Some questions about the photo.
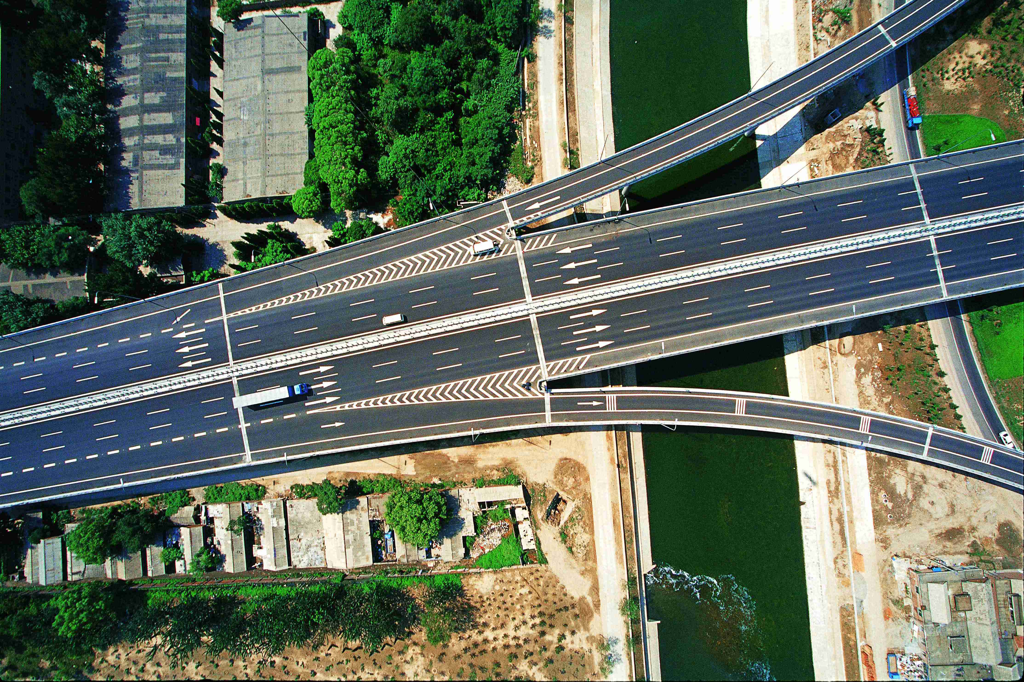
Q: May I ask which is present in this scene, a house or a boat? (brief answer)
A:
house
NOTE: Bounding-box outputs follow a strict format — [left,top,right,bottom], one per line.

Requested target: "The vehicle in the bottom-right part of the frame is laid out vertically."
[886,654,900,679]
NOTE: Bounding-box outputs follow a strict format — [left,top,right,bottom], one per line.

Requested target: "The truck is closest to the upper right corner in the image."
[901,88,922,126]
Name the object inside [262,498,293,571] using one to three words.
house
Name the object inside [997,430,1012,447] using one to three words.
car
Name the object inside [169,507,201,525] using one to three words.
house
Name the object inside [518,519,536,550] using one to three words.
shed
